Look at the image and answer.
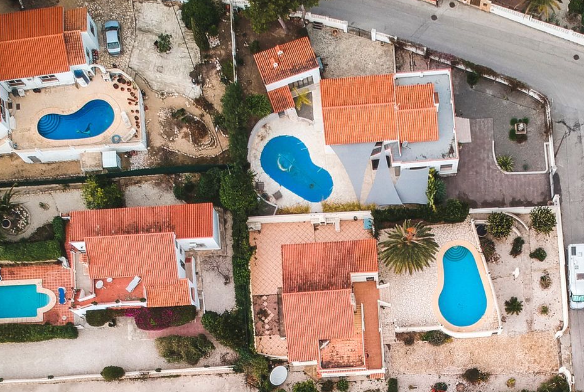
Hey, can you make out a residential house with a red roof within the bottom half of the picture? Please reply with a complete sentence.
Yes, the scene does show a residential house with a red roof within the bottom half of the picture.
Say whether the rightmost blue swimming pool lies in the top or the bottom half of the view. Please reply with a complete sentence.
It is in the bottom half that the rightmost blue swimming pool appears.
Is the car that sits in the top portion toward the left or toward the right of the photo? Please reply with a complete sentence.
It is on the left.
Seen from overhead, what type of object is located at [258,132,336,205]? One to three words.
swimming pool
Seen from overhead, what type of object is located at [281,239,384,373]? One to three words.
house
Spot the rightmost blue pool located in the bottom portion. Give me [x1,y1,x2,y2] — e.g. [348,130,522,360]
[433,239,493,332]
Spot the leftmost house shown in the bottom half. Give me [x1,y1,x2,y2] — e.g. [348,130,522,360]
[68,202,218,315]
